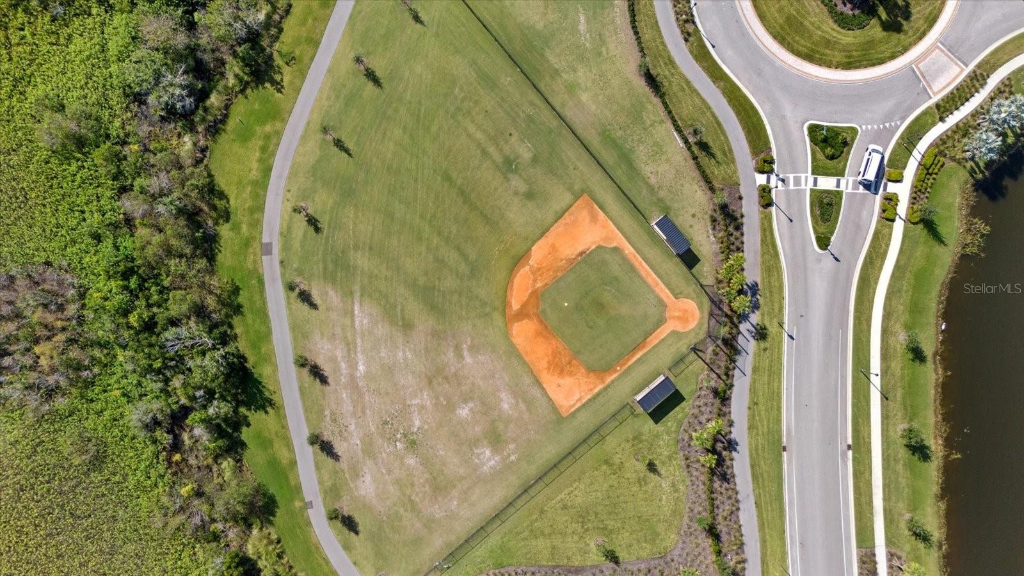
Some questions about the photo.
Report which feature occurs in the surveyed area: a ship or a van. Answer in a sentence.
This aerial view contains a van.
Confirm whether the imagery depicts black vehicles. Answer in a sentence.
No, I can see no black vehicle in this picture.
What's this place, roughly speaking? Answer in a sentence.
This image shows a sports ground.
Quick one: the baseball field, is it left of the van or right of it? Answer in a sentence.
You can see the baseball field positioned to the left of the van.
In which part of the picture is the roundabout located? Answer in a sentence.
The roundabout sits in the top right section of the image.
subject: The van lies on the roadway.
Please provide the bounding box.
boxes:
[859,143,887,186]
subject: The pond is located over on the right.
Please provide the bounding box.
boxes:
[938,138,1024,576]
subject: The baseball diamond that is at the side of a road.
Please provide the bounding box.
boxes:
[280,0,710,576]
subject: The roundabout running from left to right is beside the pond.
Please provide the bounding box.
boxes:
[698,0,998,121]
